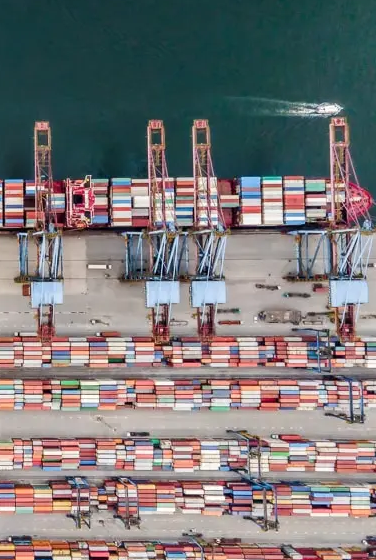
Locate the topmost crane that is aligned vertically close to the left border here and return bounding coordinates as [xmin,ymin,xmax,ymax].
[5,115,66,338]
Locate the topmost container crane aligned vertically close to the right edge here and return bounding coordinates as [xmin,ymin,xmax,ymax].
[272,113,376,336]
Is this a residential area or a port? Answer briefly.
port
